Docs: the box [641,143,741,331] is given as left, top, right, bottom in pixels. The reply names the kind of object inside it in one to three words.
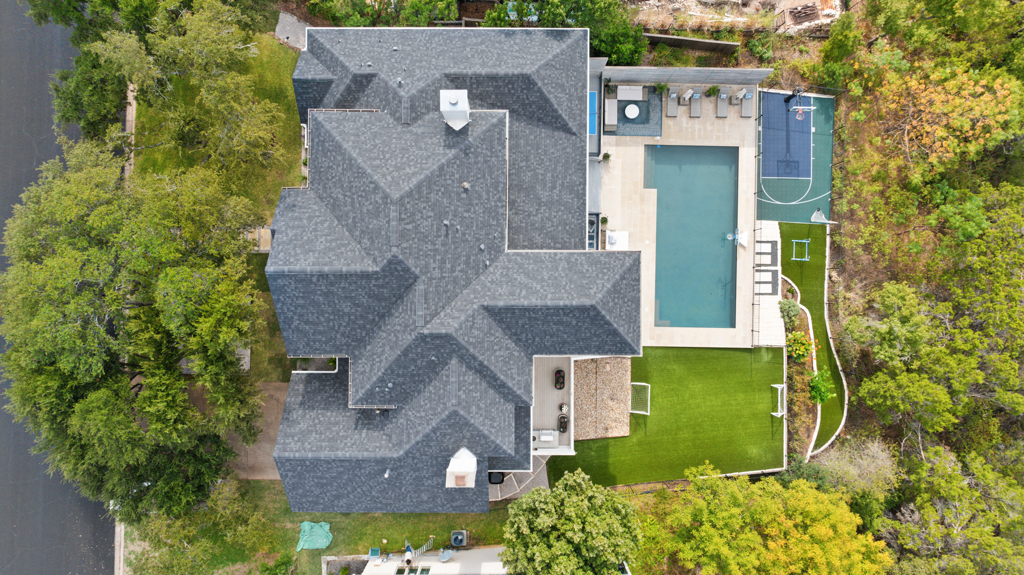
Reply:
swimming pool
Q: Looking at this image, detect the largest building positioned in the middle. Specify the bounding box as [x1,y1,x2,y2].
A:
[265,26,643,513]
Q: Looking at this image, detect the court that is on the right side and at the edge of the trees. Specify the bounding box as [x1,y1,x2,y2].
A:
[755,92,834,225]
